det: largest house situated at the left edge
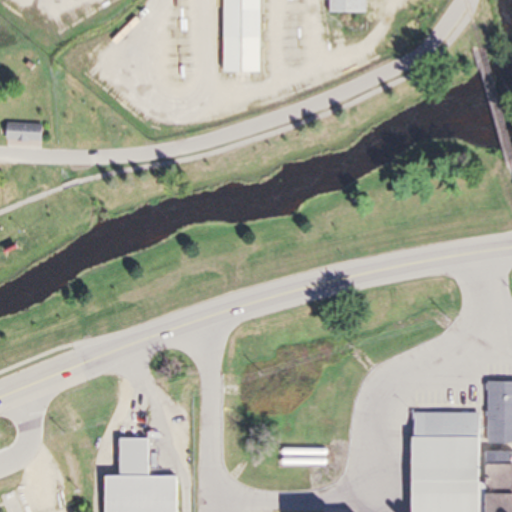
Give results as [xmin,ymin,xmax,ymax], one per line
[6,122,41,141]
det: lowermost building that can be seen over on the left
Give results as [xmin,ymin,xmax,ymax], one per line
[103,474,178,512]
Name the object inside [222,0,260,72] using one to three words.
building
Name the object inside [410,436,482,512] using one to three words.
building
